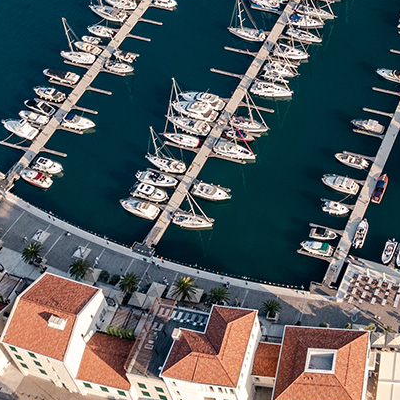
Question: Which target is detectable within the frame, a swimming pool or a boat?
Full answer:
The one in the frame is a boat.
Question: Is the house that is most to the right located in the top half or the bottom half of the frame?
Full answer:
You can find the house that is most to the right in the bottom half.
